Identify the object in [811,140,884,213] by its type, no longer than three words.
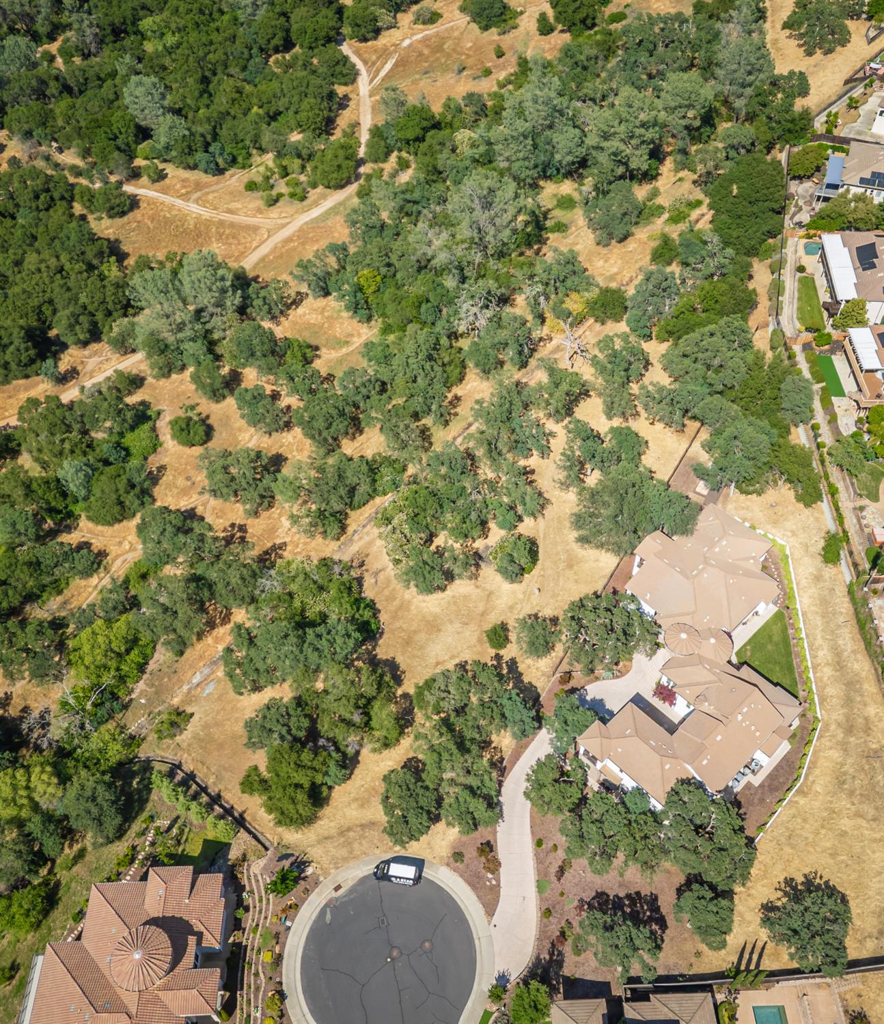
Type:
house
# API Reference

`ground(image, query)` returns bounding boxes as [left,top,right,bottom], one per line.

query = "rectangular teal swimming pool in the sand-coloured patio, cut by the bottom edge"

[752,1004,789,1024]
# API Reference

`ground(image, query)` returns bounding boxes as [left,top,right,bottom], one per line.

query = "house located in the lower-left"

[14,865,232,1024]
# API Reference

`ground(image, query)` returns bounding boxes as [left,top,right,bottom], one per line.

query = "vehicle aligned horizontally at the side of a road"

[370,859,422,886]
